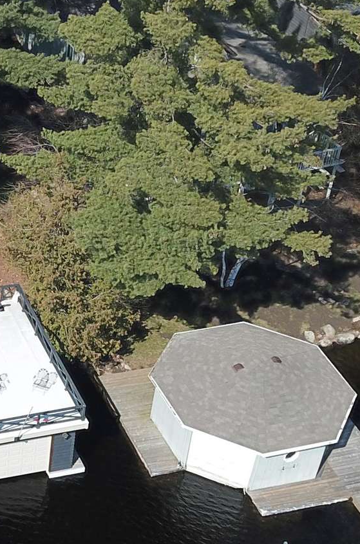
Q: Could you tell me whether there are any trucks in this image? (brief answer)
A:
No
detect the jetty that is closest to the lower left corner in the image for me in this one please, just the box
[98,370,190,483]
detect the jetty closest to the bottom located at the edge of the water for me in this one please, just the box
[245,444,350,523]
